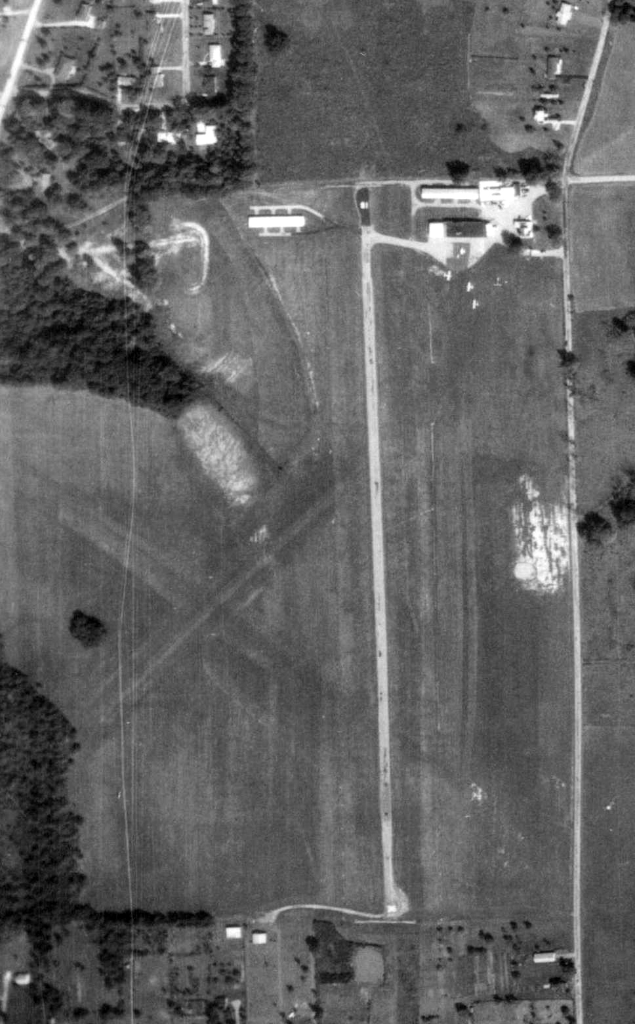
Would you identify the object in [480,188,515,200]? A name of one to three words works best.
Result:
hangar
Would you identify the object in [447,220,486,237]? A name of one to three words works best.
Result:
hangar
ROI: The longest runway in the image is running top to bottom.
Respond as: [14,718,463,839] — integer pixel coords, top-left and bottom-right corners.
[361,225,394,913]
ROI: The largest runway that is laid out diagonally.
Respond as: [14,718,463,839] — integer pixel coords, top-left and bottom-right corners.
[60,504,276,726]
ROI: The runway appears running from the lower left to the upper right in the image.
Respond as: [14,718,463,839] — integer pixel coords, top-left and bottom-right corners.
[122,486,338,703]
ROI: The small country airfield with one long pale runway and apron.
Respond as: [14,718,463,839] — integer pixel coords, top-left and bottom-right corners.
[60,181,547,918]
